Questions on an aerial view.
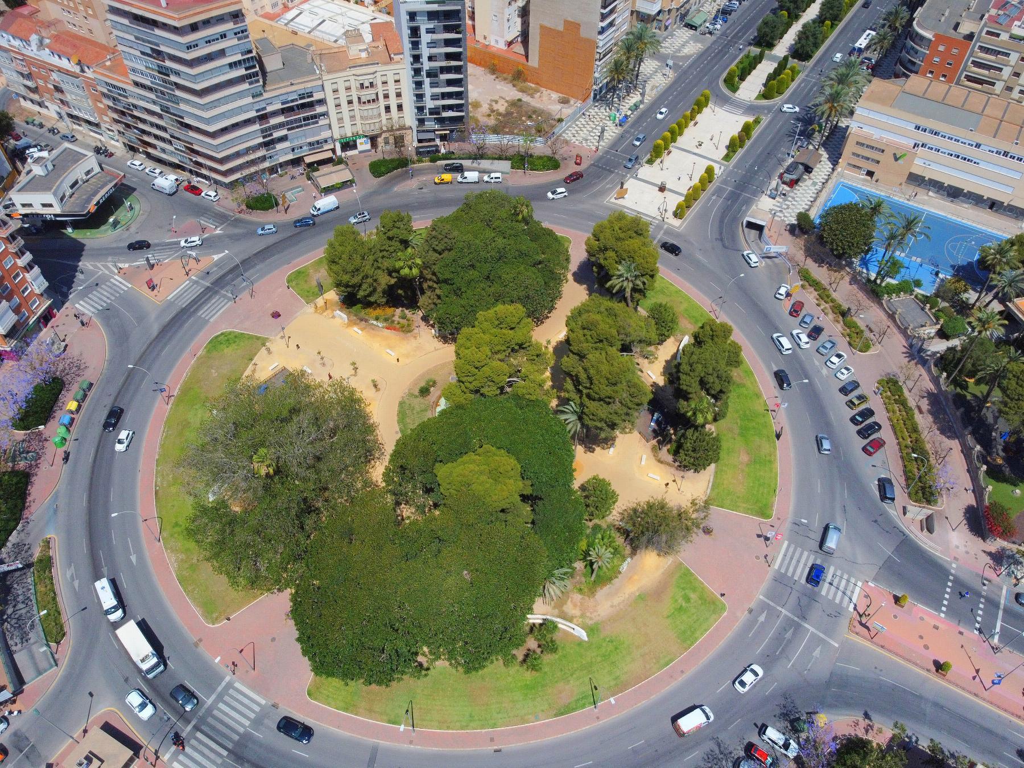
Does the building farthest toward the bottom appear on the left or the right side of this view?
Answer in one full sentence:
The building farthest toward the bottom appears in the left half of the scene.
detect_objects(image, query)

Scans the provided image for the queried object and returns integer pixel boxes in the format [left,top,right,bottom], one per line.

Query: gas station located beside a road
[5,143,128,232]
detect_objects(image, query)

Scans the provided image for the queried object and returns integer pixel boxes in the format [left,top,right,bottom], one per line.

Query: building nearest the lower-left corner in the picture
[55,727,147,768]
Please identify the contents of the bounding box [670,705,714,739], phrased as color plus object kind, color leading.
white van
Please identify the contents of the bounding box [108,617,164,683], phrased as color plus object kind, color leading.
white truck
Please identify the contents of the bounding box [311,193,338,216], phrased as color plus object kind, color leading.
white vehicle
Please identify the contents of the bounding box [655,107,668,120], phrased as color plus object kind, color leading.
white vehicle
